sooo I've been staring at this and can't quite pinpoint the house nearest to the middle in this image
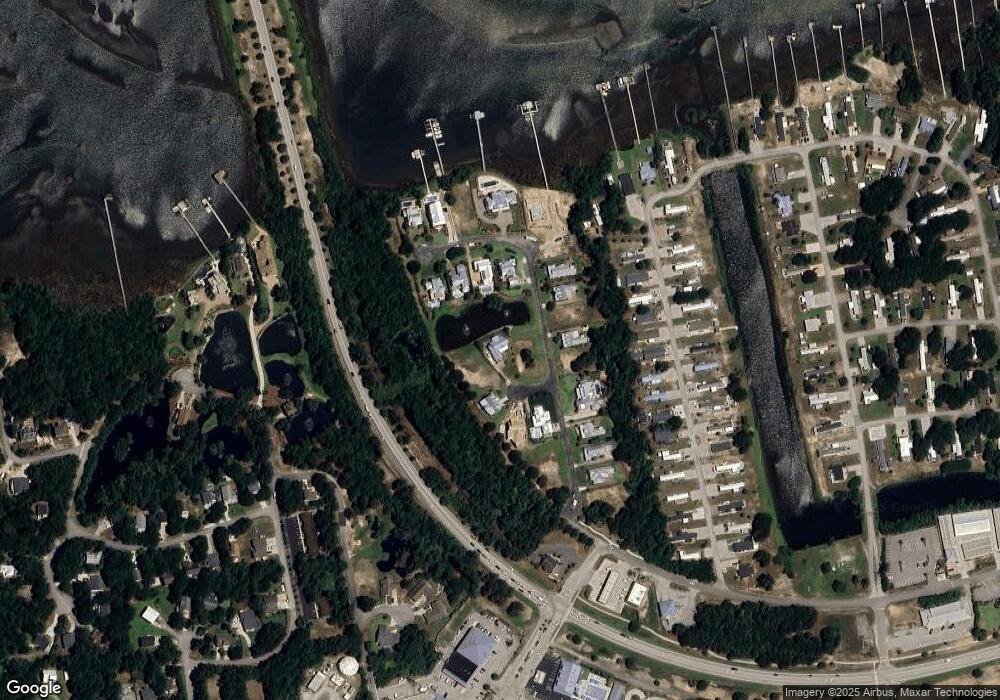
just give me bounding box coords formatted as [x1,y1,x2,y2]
[485,334,510,358]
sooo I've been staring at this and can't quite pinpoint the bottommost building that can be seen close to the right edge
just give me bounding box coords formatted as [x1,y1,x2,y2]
[919,598,975,633]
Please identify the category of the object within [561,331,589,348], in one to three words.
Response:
house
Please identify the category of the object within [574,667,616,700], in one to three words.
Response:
building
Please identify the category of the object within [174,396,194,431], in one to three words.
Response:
house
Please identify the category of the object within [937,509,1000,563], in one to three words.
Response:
building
